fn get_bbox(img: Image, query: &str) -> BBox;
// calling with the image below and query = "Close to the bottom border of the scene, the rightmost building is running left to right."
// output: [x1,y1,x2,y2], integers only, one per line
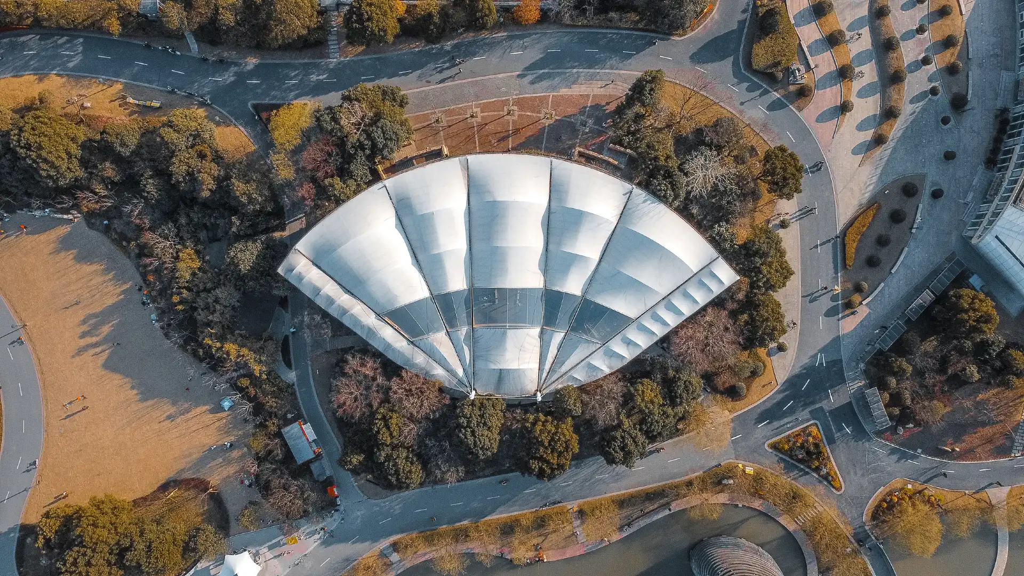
[693,534,786,576]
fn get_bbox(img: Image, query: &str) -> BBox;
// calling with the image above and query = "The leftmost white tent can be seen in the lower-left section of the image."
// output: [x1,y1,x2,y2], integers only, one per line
[213,547,266,576]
